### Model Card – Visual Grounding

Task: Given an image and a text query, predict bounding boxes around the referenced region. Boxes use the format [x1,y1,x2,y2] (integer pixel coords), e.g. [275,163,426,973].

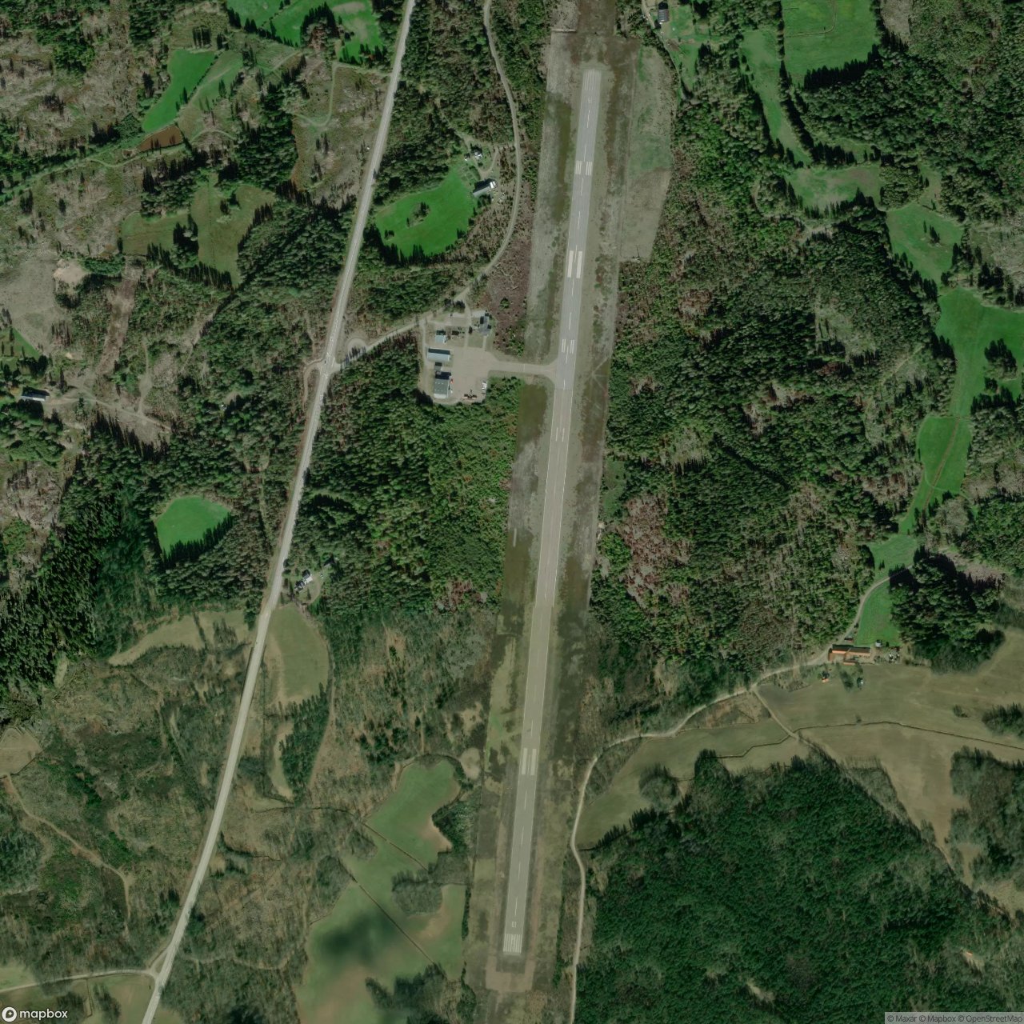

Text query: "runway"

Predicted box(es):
[503,70,601,957]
